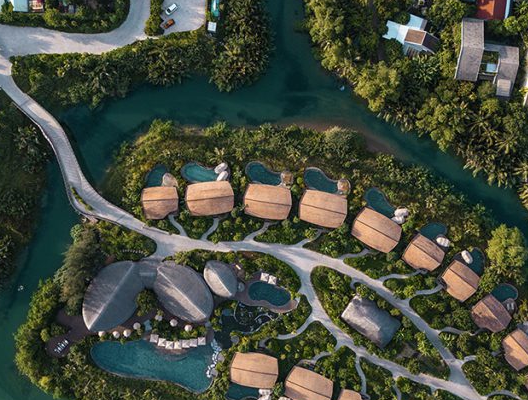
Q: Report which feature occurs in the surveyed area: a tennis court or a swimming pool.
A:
swimming pool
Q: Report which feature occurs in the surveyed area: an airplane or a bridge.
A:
bridge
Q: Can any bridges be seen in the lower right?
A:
No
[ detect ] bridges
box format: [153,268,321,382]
[28,103,166,250]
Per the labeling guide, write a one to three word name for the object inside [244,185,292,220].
house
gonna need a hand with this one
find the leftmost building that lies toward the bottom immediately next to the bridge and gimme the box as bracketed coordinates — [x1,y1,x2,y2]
[82,261,141,332]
